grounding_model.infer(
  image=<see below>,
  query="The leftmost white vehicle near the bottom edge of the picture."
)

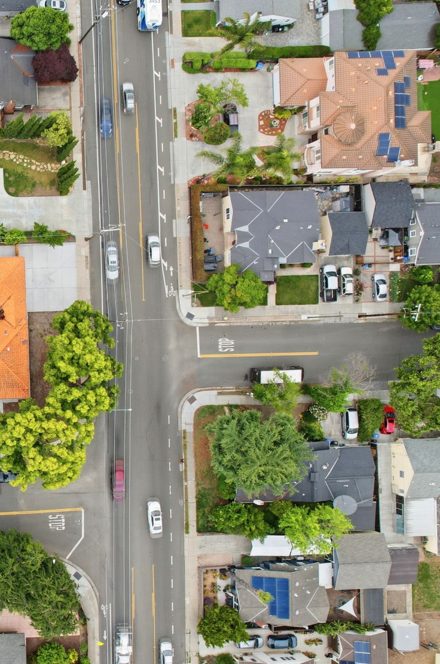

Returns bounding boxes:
[115,626,134,664]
